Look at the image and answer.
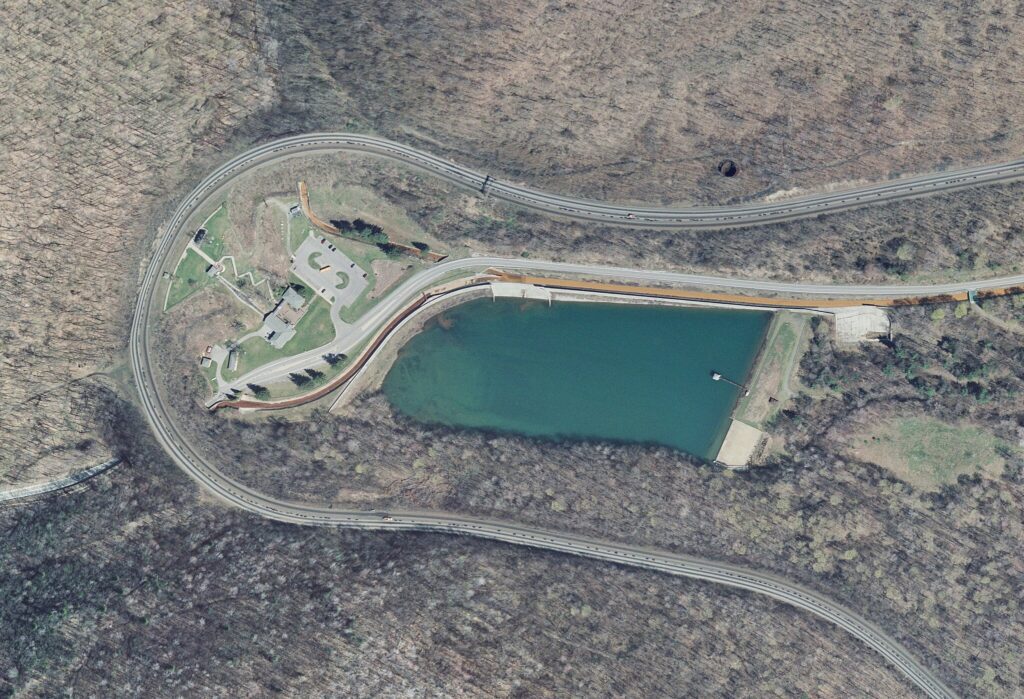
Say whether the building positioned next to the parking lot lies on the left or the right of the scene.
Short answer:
left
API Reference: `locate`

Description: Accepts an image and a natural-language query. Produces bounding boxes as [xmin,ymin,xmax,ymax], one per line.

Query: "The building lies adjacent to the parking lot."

[264,287,308,348]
